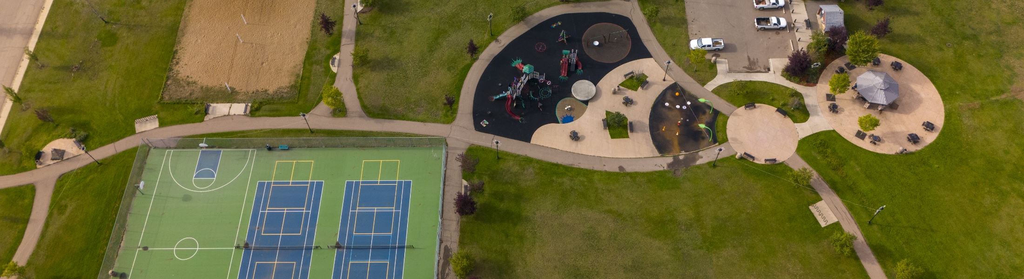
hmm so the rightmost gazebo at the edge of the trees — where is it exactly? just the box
[852,69,899,112]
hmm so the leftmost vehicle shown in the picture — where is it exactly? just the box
[690,38,725,51]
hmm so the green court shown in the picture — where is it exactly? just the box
[111,146,443,279]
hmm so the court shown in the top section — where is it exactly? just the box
[159,0,315,102]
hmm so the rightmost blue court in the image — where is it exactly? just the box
[332,160,412,279]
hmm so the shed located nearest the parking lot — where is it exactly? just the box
[815,5,848,34]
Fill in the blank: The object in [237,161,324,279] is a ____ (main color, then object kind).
blue tennis court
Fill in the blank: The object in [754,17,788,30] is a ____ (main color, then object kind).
white vehicle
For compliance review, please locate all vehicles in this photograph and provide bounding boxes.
[754,17,788,30]
[753,0,786,10]
[690,38,725,51]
